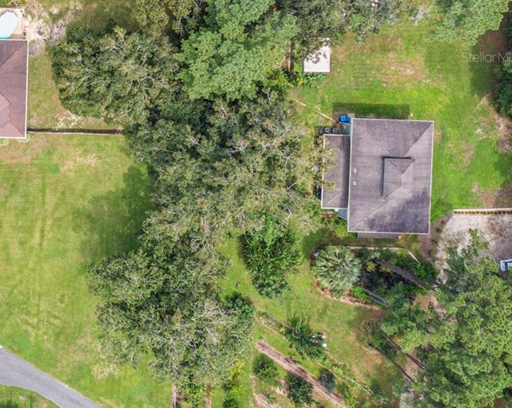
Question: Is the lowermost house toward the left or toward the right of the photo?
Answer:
right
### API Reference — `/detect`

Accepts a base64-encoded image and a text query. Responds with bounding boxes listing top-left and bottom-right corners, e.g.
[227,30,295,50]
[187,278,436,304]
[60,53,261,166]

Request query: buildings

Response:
[314,118,435,239]
[296,40,330,73]
[0,38,29,139]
